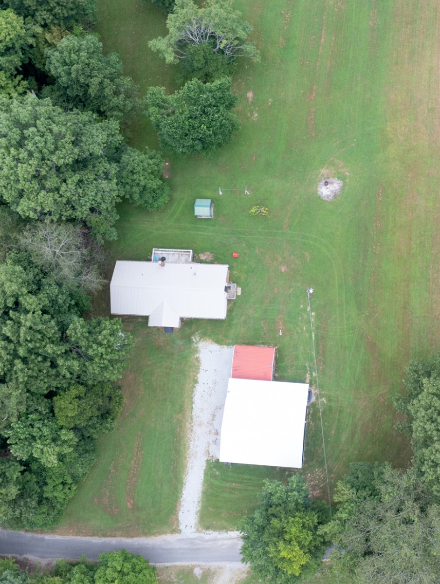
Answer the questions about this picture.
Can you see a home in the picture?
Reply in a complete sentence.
Yes, a home is visible in the scene.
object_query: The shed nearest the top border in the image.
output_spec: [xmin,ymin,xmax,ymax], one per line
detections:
[194,198,213,218]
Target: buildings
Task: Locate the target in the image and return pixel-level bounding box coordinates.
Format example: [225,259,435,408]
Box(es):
[110,248,237,333]
[194,198,213,218]
[221,378,309,468]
